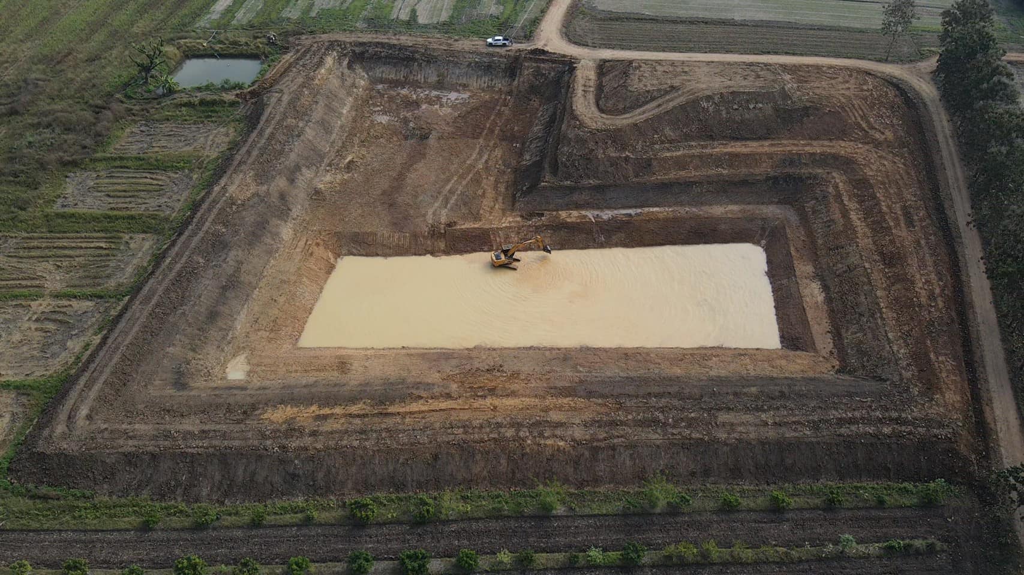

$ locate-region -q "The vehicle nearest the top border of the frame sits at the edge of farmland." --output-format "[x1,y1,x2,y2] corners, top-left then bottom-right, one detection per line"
[487,35,513,47]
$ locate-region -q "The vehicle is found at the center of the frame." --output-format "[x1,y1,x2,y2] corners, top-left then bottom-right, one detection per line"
[485,234,550,273]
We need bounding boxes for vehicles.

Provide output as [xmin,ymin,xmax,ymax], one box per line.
[487,35,513,47]
[485,234,550,273]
